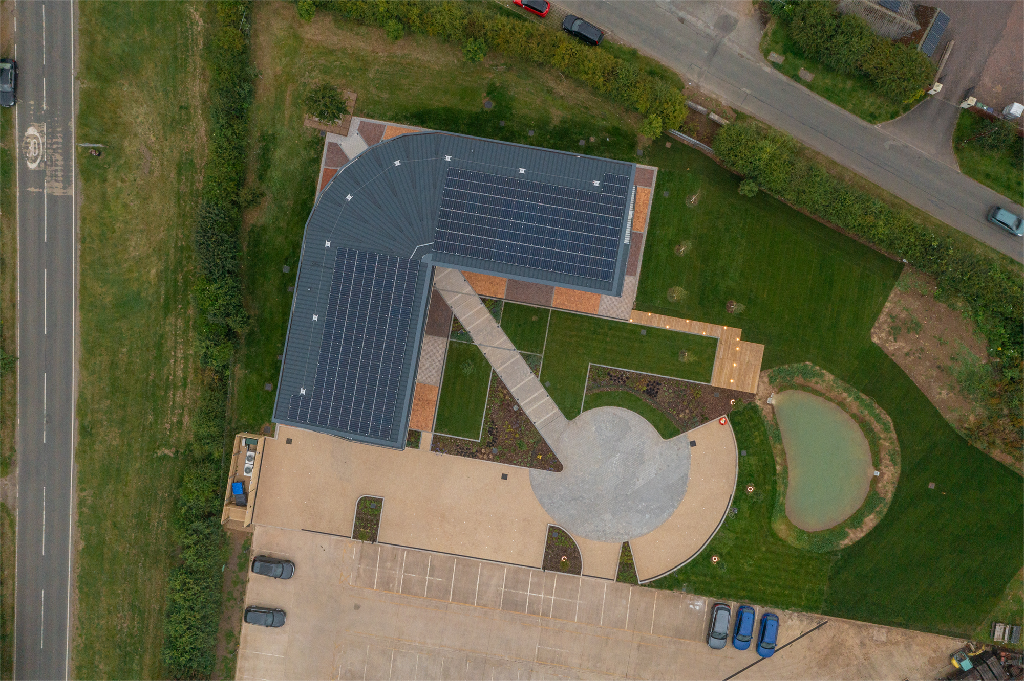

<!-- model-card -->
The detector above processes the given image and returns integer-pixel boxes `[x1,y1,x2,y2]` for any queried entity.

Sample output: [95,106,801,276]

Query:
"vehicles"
[243,603,287,630]
[730,604,755,650]
[754,611,779,657]
[250,554,297,581]
[982,205,1024,238]
[0,58,21,108]
[706,601,732,649]
[945,633,983,675]
[560,14,605,46]
[512,0,554,22]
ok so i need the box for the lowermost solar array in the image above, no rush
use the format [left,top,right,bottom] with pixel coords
[287,247,419,435]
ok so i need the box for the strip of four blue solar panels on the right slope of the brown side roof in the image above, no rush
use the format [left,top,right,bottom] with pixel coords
[923,10,952,56]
